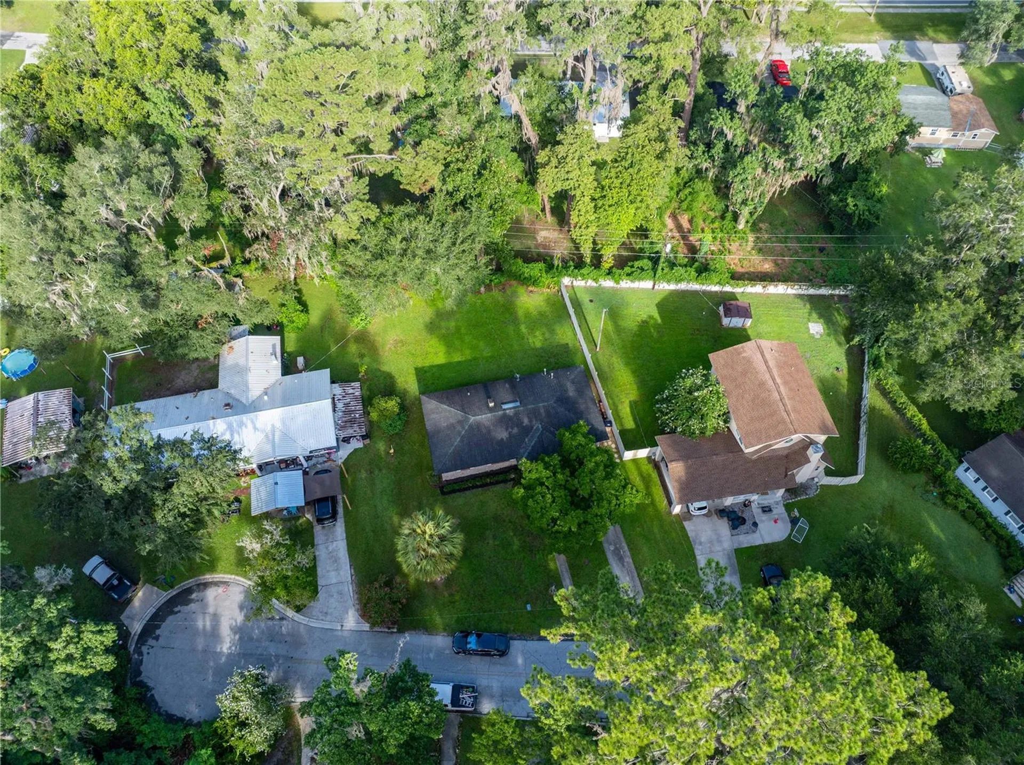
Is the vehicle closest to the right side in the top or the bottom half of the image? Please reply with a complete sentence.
It is in the top half that the vehicle closest to the right side appears.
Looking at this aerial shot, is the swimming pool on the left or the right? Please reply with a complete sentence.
It is on the left.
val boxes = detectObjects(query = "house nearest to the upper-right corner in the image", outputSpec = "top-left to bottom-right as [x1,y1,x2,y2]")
[892,86,1006,155]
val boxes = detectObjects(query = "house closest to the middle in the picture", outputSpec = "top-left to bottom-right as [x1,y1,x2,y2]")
[421,366,609,497]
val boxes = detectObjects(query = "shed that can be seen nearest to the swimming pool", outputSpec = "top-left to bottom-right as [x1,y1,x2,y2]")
[1,389,83,476]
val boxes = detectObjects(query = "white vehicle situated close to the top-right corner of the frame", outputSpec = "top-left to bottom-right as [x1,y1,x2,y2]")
[935,66,973,91]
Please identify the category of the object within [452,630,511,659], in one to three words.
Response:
car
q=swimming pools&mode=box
[3,353,45,381]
